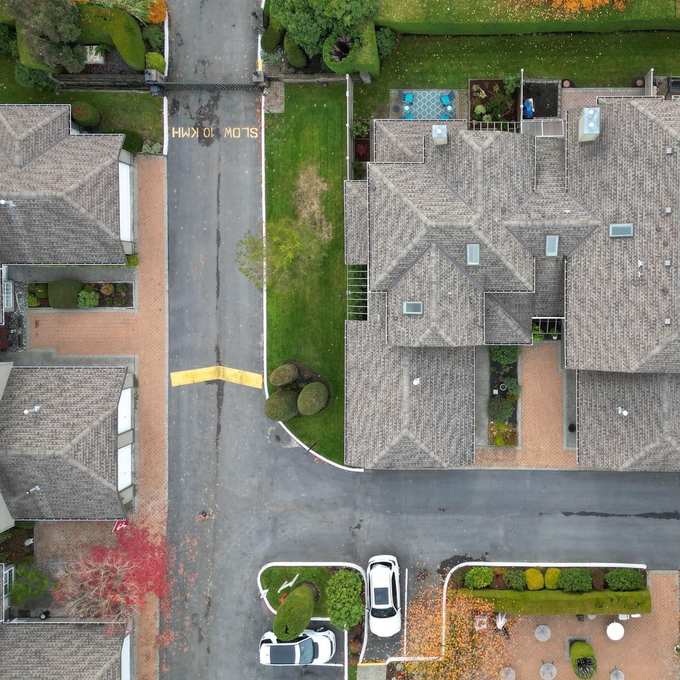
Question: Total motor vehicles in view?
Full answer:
In total, there are 2 motor vehicles in the scene.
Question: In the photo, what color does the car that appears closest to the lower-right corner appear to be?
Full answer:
From above, the car that appears closest to the lower-right corner appears white.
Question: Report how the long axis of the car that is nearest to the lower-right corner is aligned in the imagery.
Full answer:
The car that is nearest to the lower-right corner is oriented from top to bottom.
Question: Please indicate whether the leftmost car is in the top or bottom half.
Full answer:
The bottom half of the photo is where the leftmost car is.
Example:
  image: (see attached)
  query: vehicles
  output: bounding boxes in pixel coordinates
[261,624,337,671]
[364,555,403,635]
